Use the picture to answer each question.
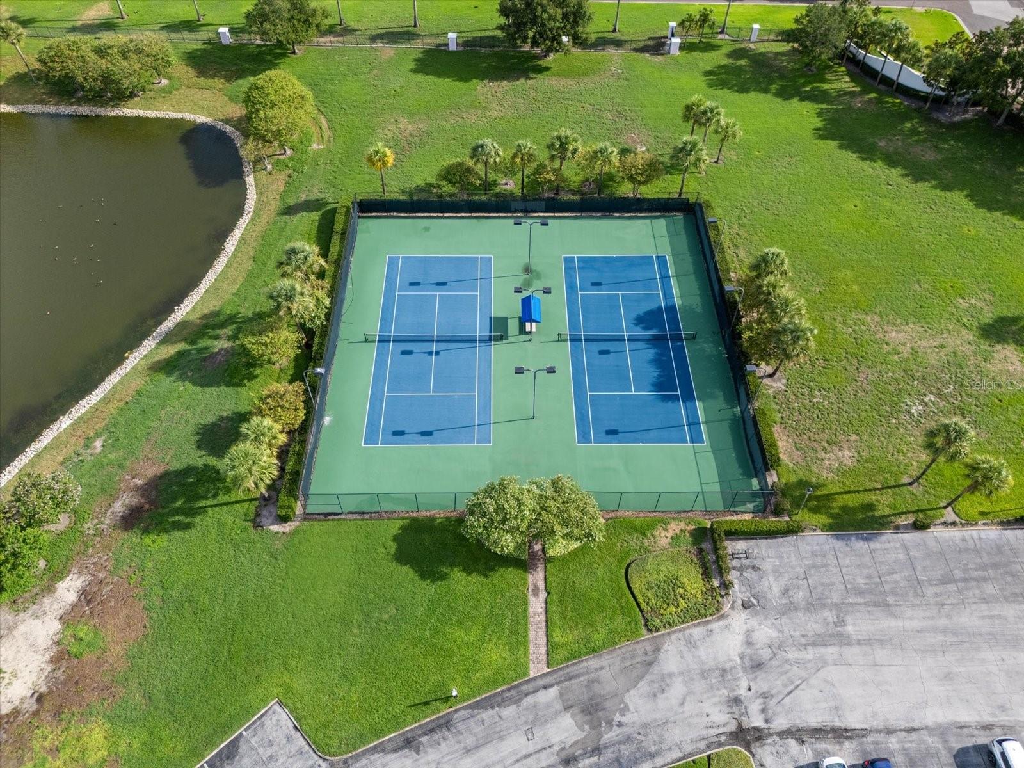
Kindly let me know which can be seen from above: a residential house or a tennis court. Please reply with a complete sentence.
Of the two, only a tennis court appears.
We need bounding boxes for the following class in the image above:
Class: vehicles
[820,755,852,768]
[861,756,893,768]
[993,738,1024,768]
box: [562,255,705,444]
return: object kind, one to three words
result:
tennis court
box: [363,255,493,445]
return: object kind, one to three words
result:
tennis court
